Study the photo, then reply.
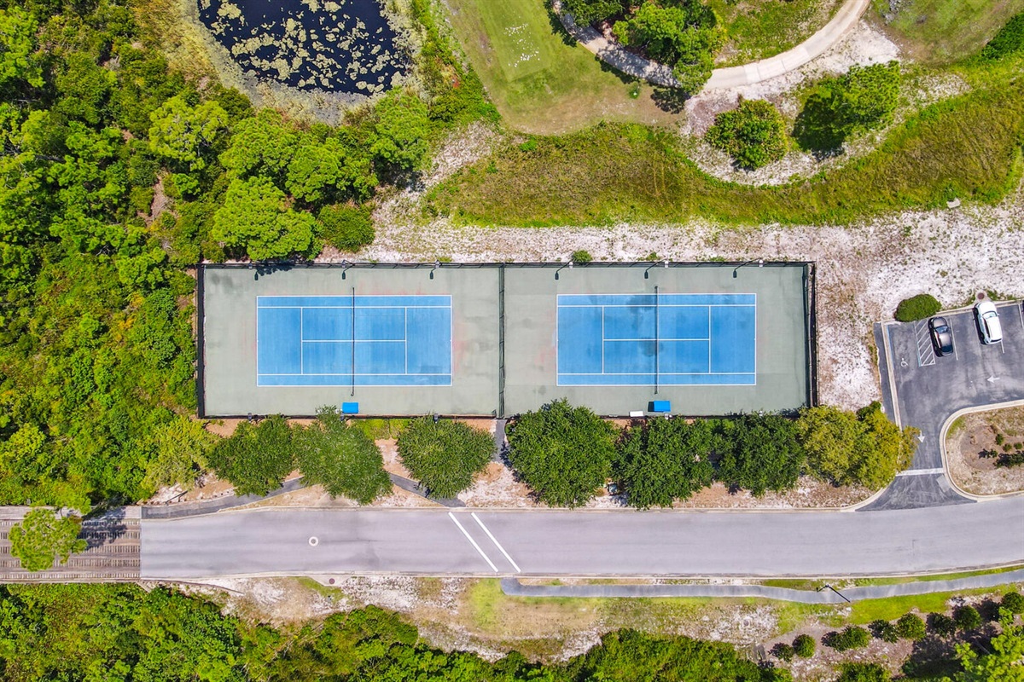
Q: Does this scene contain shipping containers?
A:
No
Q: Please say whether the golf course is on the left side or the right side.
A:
right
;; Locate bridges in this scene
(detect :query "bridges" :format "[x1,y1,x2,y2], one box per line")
[0,505,141,584]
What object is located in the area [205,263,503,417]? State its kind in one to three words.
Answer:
tennis court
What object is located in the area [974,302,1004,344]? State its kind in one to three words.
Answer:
car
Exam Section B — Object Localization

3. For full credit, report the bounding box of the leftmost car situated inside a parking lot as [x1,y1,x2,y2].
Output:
[927,317,954,358]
